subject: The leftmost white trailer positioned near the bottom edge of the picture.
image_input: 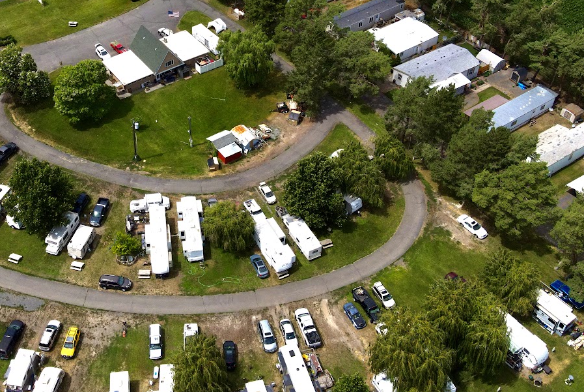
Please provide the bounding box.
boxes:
[5,350,38,392]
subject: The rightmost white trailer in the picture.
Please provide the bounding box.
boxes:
[528,292,577,339]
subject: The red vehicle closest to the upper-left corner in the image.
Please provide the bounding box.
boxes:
[107,42,130,56]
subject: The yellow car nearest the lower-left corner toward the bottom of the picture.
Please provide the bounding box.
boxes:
[62,326,80,357]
